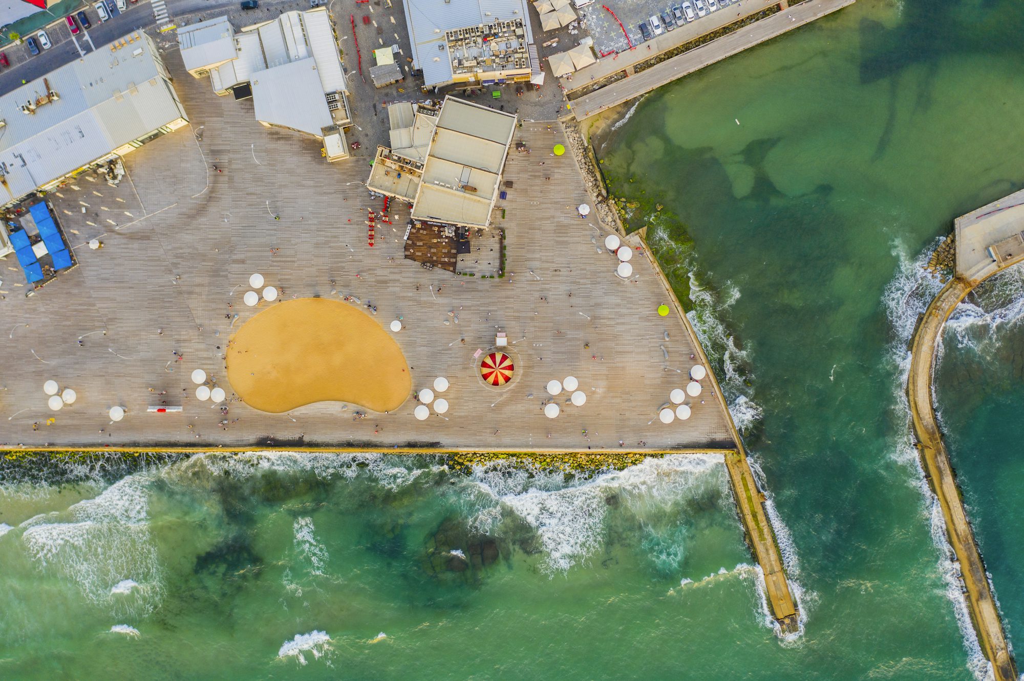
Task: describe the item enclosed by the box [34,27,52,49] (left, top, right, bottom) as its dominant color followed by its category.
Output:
white car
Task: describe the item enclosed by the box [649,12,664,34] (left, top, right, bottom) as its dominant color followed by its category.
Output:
white car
